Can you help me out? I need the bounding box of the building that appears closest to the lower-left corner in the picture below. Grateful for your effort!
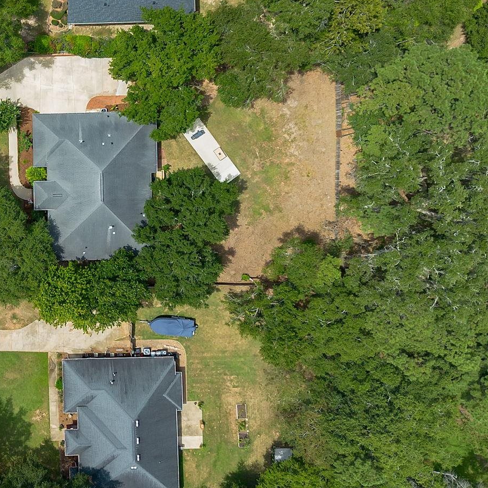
[61,356,183,488]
